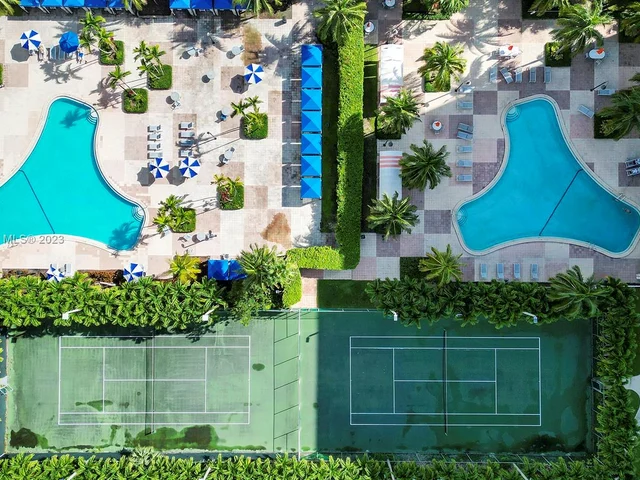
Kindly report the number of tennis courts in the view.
two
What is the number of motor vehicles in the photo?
0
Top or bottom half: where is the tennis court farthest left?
bottom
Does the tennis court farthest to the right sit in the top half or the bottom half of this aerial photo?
bottom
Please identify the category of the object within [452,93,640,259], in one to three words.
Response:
swimming pool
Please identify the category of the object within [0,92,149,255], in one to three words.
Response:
swimming pool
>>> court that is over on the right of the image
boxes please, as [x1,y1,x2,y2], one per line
[299,309,592,453]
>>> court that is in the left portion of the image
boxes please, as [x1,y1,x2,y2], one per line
[6,309,299,453]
